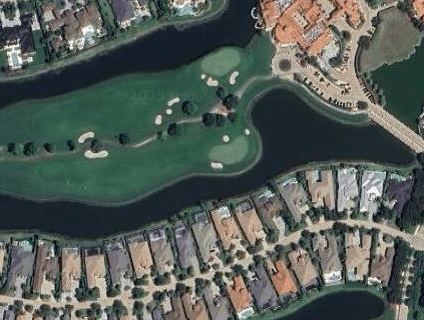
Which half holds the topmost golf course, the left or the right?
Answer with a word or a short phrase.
left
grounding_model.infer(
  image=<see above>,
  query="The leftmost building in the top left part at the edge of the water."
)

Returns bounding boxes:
[0,12,36,68]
